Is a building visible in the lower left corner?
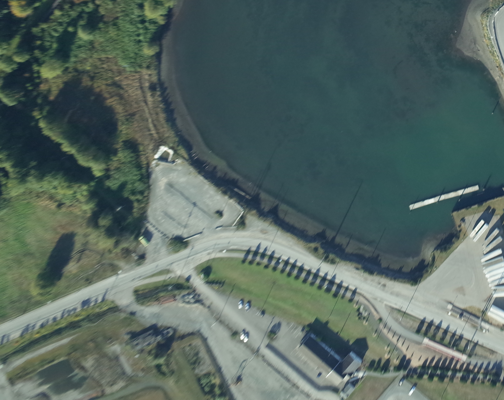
No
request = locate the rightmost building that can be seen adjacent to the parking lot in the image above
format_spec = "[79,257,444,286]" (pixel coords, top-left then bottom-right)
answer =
[342,347,365,377]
